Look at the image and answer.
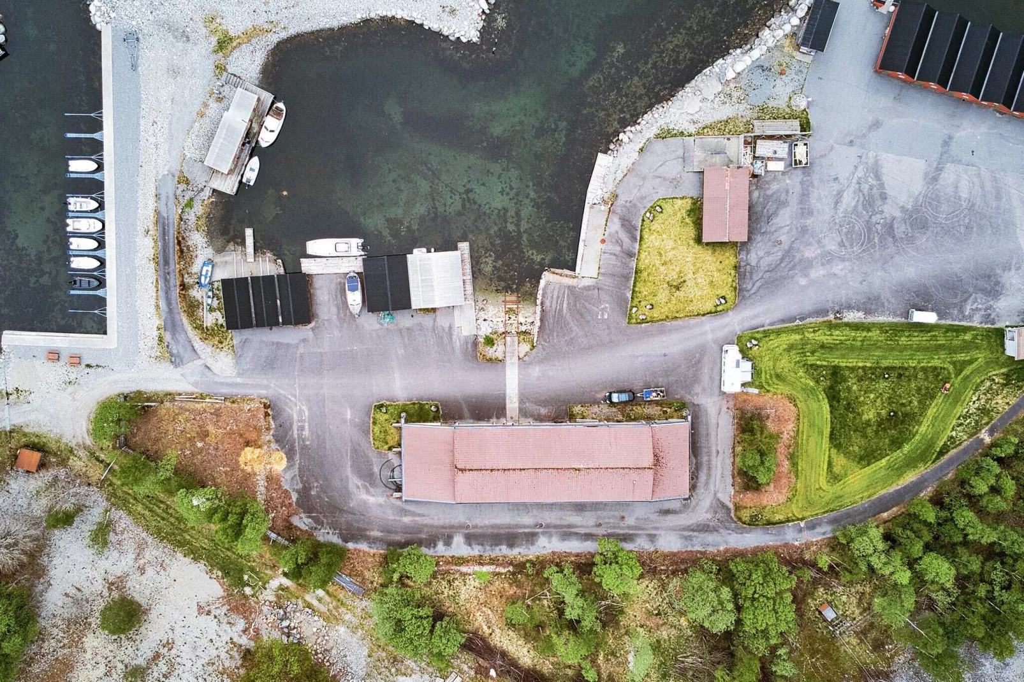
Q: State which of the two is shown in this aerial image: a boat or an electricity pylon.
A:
boat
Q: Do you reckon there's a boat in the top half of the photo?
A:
Yes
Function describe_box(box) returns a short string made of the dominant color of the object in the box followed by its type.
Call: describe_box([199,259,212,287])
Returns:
white boat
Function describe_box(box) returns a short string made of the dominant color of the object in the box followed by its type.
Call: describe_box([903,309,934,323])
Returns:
white camper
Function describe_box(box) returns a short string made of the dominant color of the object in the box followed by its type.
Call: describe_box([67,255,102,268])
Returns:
white boat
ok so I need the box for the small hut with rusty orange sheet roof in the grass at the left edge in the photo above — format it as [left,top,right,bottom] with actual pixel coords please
[16,448,49,473]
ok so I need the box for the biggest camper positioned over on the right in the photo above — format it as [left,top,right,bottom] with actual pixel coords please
[720,342,754,391]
